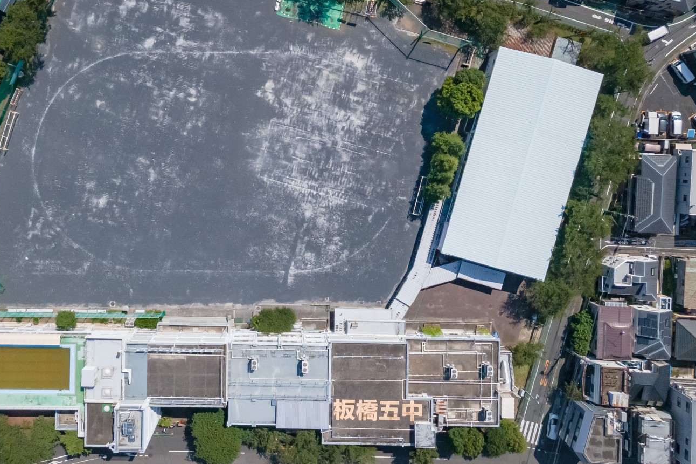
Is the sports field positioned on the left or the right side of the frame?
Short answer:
left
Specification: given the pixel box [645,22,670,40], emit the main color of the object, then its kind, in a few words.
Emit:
white vehicle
